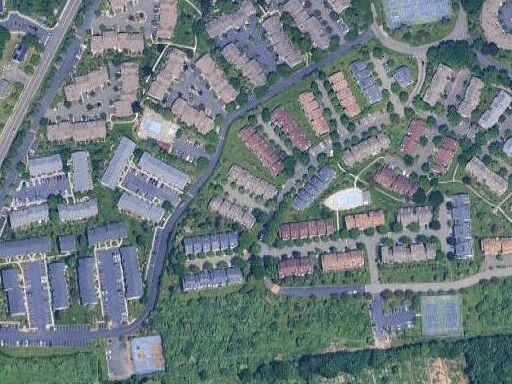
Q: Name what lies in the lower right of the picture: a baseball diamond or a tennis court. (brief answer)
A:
tennis court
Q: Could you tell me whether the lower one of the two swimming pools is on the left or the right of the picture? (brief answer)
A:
right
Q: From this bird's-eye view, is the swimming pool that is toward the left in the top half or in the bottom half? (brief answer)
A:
top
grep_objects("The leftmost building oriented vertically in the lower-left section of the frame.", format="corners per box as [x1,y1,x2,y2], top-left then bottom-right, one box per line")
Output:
[0,268,26,317]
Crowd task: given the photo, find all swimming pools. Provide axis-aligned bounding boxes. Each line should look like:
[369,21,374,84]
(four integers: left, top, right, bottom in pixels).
[325,188,363,210]
[139,109,178,145]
